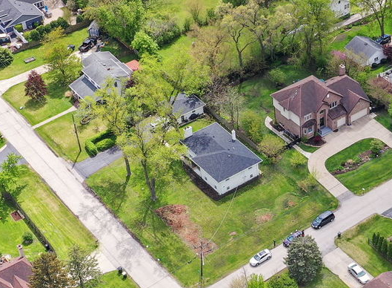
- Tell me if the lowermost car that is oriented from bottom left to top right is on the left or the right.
right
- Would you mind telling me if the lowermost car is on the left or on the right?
right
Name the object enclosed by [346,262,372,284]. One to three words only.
car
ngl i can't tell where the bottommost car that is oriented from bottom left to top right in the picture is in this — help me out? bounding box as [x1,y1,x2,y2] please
[248,246,275,268]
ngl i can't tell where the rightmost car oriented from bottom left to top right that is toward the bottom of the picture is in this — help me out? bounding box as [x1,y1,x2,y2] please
[309,208,337,230]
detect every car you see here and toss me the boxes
[248,246,275,268]
[346,262,372,284]
[309,208,337,230]
[281,228,307,249]
[373,33,392,46]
